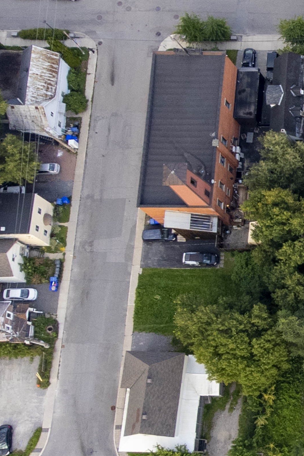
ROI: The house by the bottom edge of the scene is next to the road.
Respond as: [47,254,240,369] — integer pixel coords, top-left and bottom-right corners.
[118,351,224,454]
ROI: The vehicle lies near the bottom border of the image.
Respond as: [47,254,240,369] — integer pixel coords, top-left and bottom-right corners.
[0,422,16,456]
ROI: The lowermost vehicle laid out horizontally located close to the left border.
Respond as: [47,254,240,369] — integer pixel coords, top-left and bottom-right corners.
[3,286,38,302]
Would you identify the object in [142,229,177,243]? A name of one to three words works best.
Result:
vehicle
